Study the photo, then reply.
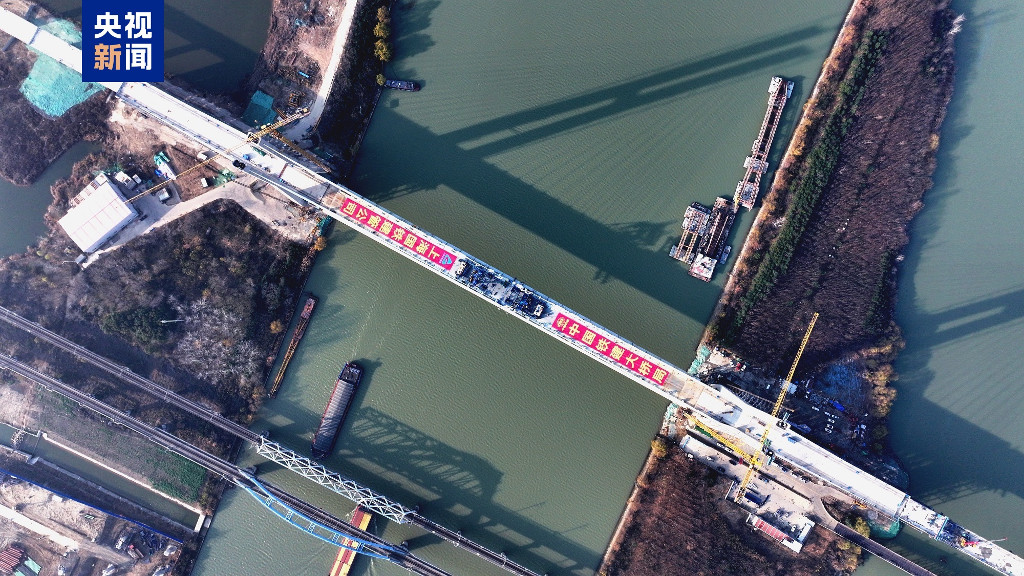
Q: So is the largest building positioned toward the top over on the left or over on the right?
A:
left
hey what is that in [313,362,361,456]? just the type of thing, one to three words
ship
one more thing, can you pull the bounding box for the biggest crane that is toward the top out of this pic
[124,110,337,204]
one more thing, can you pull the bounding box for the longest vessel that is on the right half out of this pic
[692,198,735,280]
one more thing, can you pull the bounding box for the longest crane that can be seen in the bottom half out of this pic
[680,313,818,503]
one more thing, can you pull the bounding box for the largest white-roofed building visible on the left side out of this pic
[59,182,138,252]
